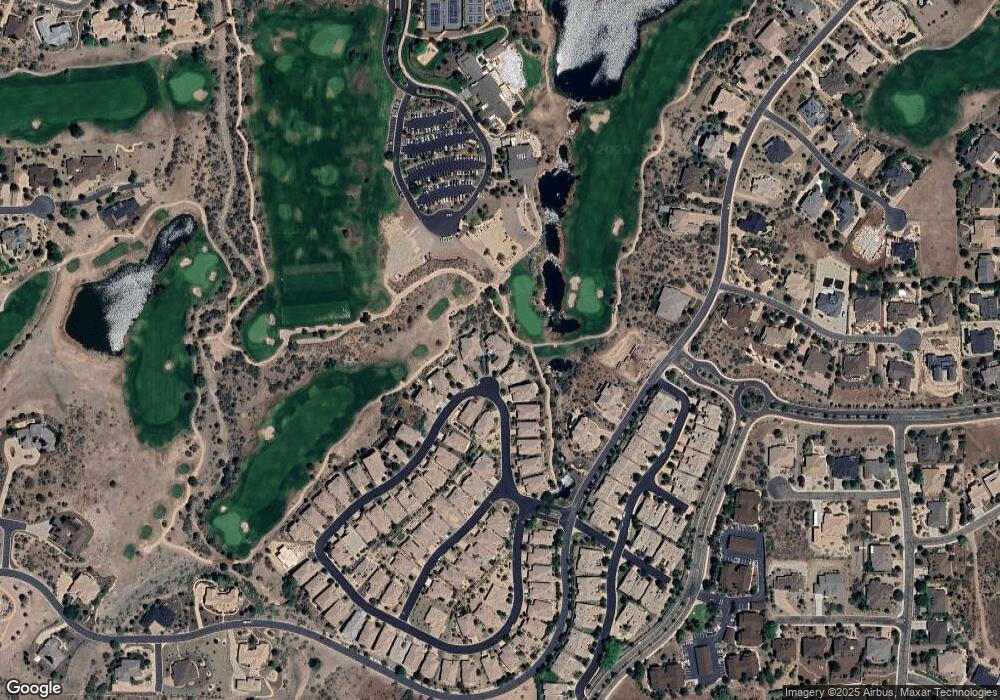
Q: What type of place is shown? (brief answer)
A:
residential area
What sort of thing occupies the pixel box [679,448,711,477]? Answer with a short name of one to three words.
house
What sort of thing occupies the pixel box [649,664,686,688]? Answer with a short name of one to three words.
building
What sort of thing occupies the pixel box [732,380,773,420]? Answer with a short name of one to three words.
roundabout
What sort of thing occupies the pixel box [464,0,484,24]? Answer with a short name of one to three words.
sports court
